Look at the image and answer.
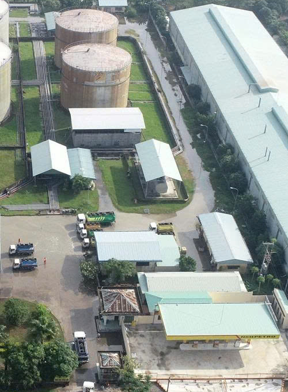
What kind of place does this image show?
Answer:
industrial area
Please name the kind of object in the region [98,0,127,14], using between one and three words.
shed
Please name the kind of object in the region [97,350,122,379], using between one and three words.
building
